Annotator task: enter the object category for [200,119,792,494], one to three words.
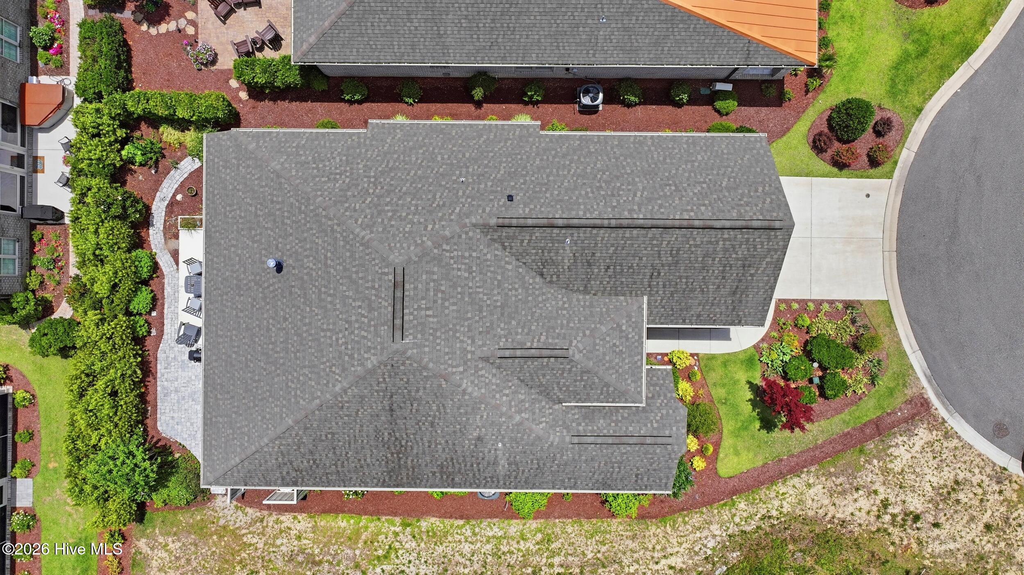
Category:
house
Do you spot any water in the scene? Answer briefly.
No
